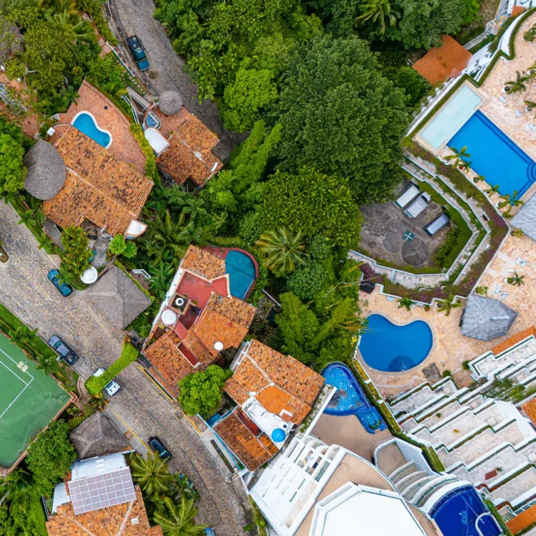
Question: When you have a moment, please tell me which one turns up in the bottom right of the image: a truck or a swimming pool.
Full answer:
The feature located in the bottom right of the image is a swimming pool.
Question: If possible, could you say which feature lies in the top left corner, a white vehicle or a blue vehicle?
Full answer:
Looking in the top left corner, you will find a blue vehicle.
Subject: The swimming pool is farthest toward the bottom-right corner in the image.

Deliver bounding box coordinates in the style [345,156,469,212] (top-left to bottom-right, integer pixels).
[424,479,506,536]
